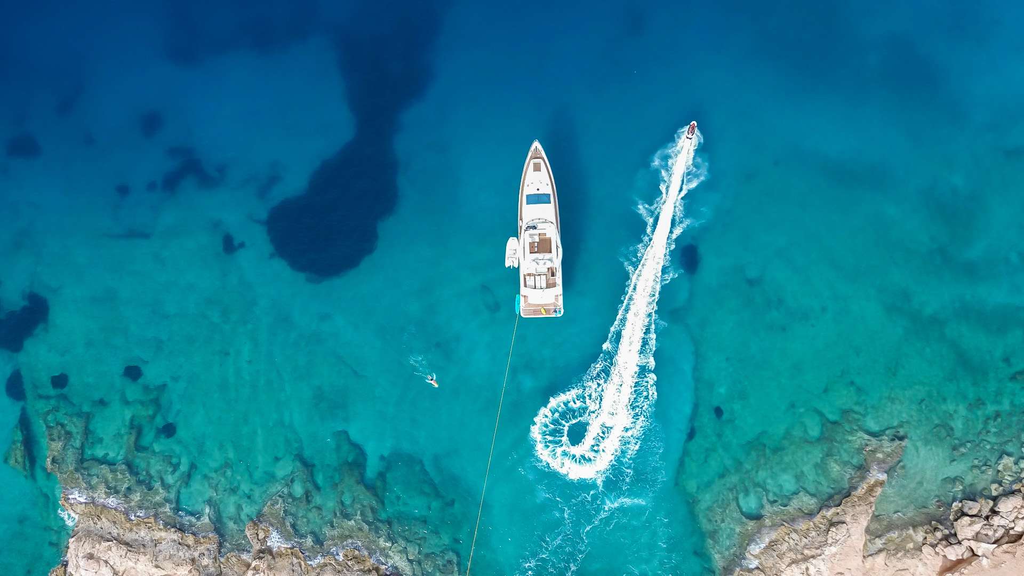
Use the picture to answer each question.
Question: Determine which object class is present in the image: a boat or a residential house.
boat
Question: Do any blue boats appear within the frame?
No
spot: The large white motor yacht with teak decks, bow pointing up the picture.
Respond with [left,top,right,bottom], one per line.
[518,140,563,318]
